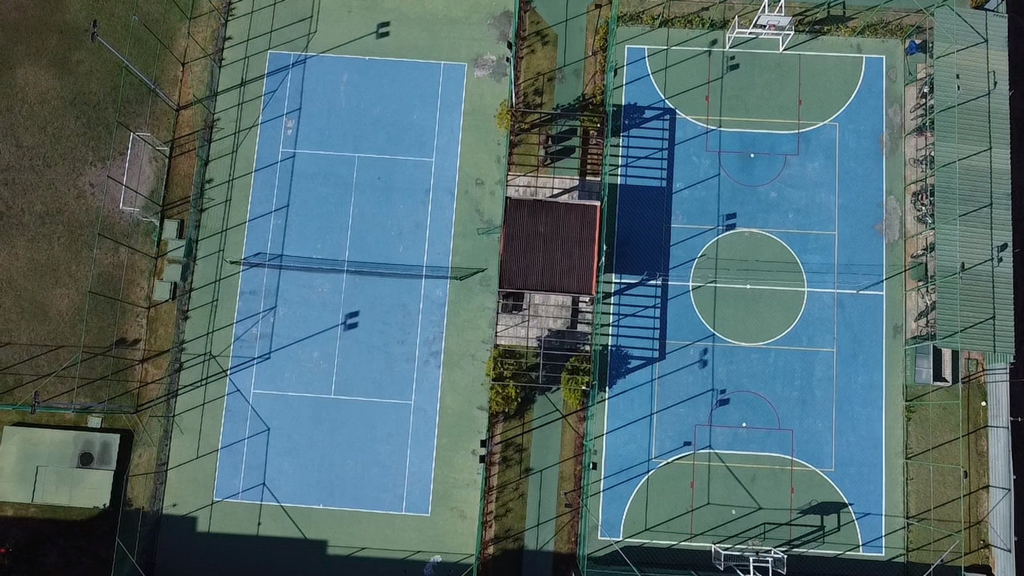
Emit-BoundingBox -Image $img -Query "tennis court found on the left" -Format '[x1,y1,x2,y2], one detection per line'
[153,0,513,576]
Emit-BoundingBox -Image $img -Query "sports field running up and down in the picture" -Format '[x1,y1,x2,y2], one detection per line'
[0,0,192,414]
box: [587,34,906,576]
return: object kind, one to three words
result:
sports court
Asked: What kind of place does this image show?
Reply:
sports ground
